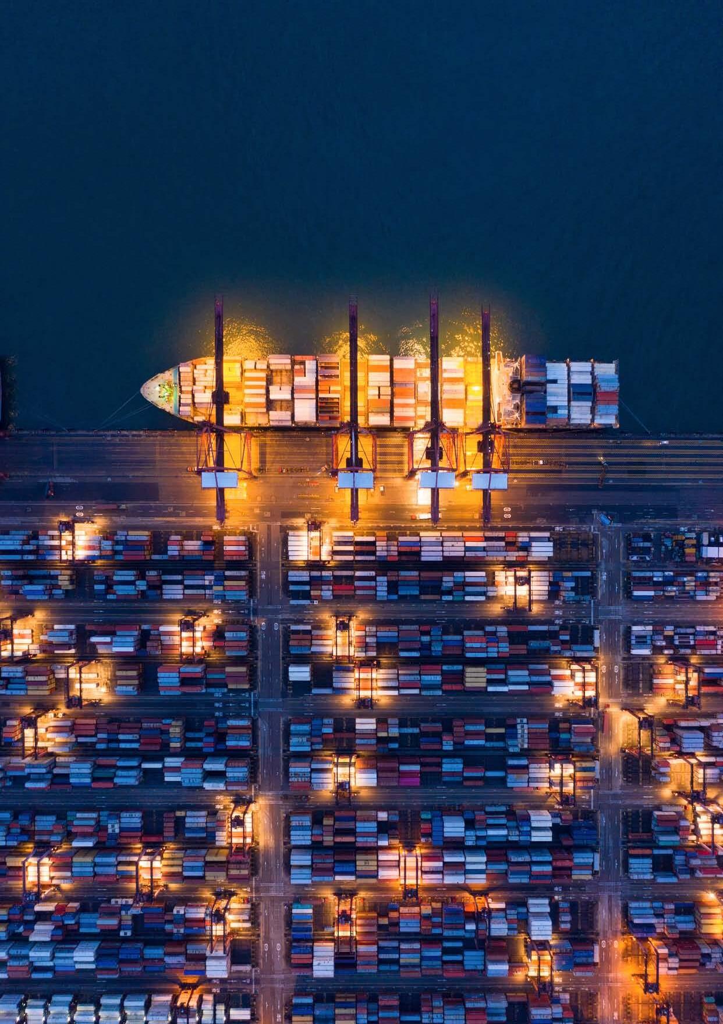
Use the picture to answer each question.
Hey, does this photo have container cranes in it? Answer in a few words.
Yes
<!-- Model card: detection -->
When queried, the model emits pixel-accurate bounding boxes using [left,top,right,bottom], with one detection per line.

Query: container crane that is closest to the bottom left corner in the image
[23,843,55,903]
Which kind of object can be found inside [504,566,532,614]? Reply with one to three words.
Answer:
container crane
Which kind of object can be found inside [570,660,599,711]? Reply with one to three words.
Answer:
container crane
